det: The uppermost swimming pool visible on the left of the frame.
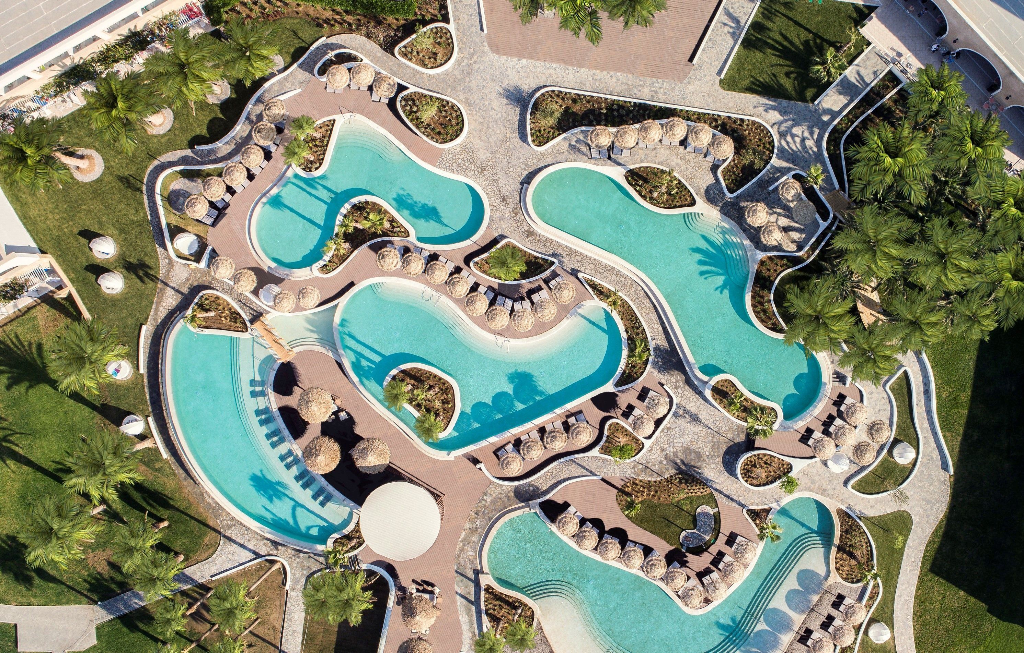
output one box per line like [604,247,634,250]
[251,112,490,274]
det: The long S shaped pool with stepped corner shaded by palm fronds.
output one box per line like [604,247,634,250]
[527,161,828,425]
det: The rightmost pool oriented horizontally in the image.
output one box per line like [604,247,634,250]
[482,492,835,653]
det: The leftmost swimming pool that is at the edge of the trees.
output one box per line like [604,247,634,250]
[164,299,358,550]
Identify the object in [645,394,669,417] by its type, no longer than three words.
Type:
umbrella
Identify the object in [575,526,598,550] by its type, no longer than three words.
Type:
umbrella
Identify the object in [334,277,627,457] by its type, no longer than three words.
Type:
swimming pool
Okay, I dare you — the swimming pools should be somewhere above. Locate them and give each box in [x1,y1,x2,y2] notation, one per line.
[334,277,627,457]
[527,161,828,425]
[482,492,835,653]
[164,299,358,550]
[251,112,490,274]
